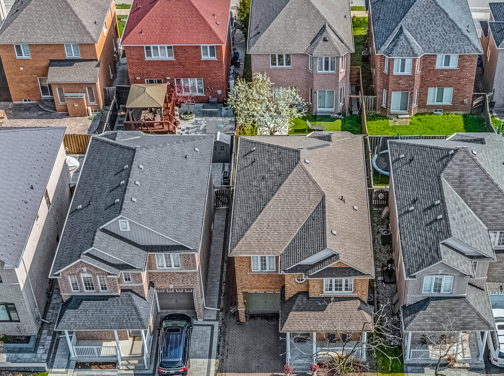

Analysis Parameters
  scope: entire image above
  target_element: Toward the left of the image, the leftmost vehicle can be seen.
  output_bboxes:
[155,318,195,376]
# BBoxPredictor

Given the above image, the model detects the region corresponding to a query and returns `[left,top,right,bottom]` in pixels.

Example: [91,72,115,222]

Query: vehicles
[155,318,195,376]
[483,312,504,371]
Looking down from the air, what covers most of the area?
buildings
